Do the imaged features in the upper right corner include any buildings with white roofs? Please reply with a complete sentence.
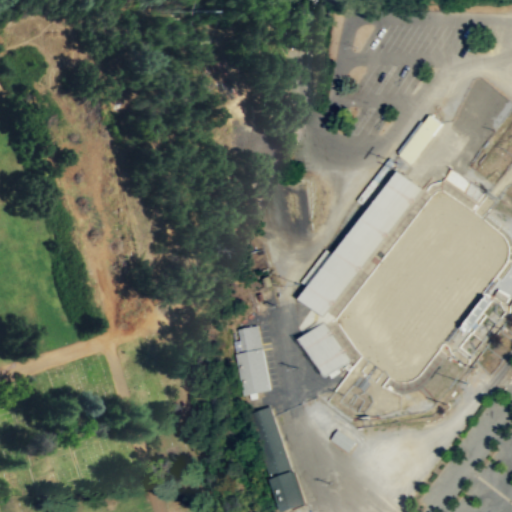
Yes, a building with a white roof appears in the upper right corner.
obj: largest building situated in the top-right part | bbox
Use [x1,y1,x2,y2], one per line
[400,114,446,164]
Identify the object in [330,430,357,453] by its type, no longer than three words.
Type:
shed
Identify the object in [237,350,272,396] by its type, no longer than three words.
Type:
barn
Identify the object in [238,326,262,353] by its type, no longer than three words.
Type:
barn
